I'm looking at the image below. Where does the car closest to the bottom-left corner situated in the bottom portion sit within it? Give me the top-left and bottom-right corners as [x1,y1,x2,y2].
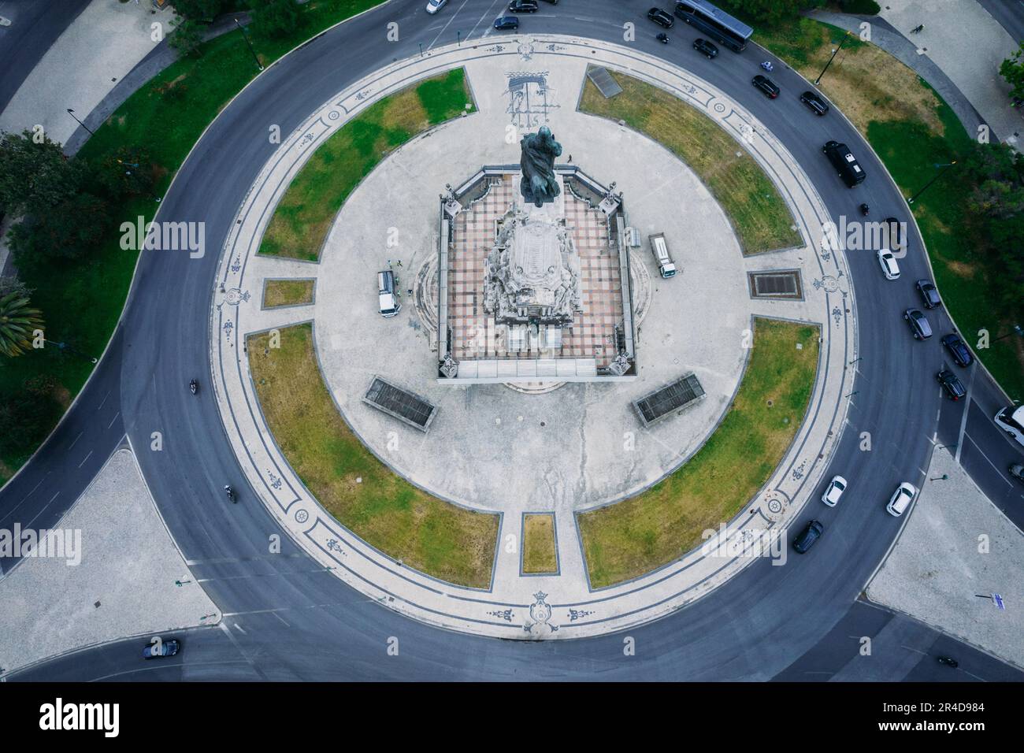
[140,638,183,660]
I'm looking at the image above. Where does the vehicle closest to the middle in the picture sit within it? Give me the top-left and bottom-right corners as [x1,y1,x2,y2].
[377,273,402,318]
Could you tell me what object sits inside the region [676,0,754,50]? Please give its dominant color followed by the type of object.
blue bus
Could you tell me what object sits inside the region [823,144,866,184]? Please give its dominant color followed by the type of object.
black vehicle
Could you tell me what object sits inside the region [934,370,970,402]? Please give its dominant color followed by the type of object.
black car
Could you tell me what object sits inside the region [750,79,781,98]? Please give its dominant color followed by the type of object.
black car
